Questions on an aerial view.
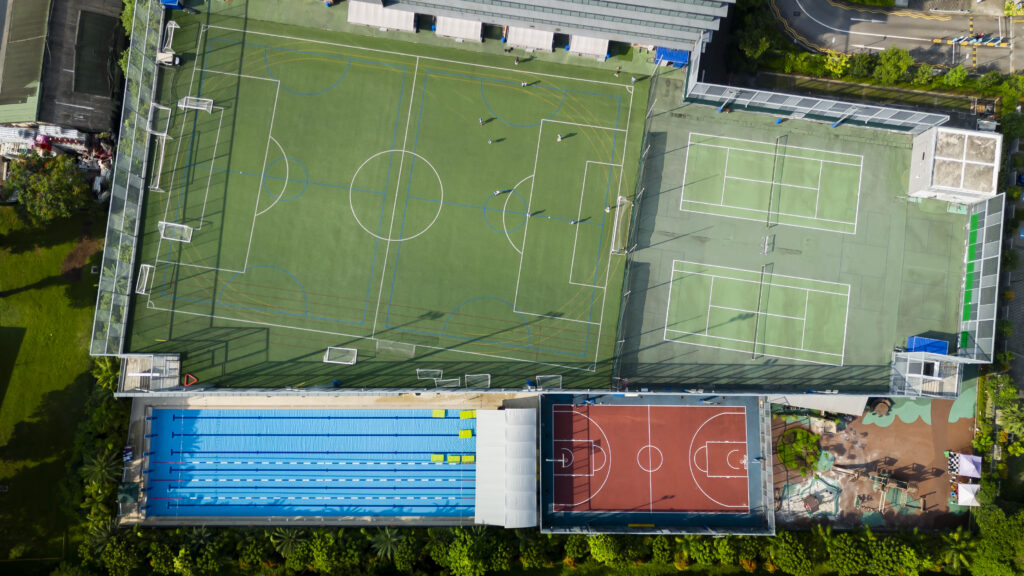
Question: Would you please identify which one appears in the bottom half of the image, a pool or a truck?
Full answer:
Visible in the bottom half of the image is a pool.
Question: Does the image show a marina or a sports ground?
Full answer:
It's a sports ground.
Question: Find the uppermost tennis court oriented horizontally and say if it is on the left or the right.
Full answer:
The uppermost tennis court oriented horizontally sits on the right side.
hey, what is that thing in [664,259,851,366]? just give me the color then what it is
green tennis court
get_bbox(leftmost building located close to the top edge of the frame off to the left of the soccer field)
[0,0,56,132]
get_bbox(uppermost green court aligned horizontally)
[680,132,864,235]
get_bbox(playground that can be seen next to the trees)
[772,378,977,529]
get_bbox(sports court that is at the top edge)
[56,10,118,110]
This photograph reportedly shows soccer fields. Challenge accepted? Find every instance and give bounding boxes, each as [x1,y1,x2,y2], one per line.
[122,0,651,392]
